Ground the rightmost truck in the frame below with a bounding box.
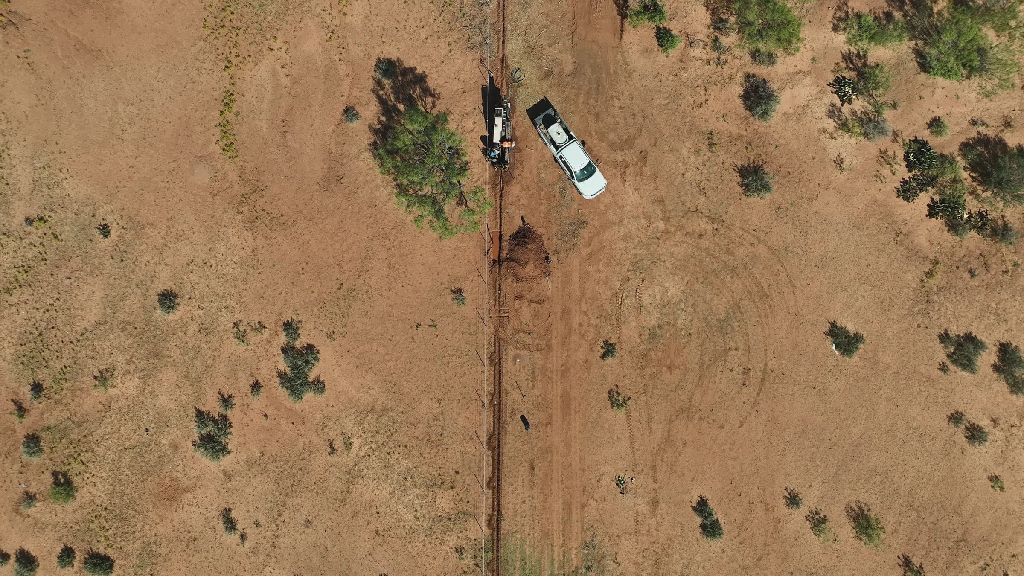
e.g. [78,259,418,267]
[530,106,607,200]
